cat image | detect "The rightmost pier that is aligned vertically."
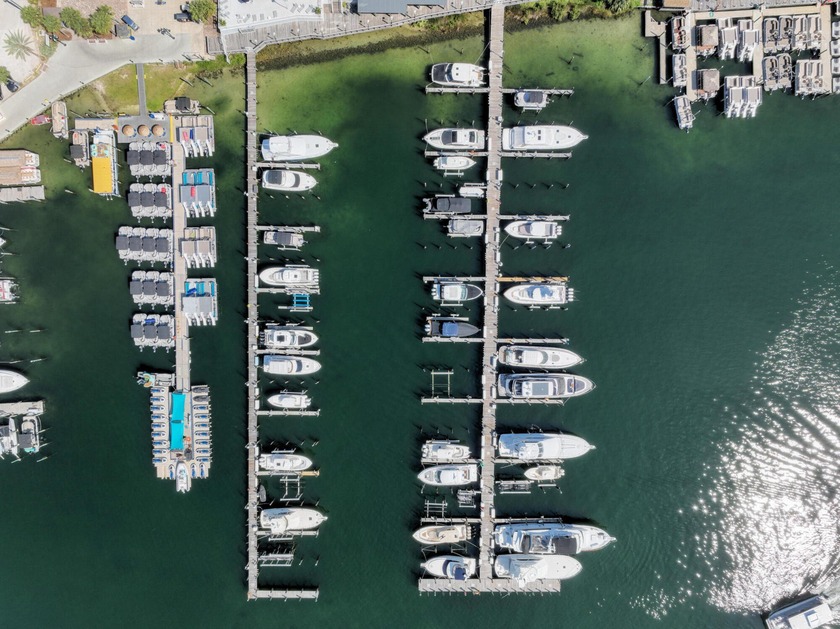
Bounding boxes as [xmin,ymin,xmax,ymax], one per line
[418,6,574,595]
